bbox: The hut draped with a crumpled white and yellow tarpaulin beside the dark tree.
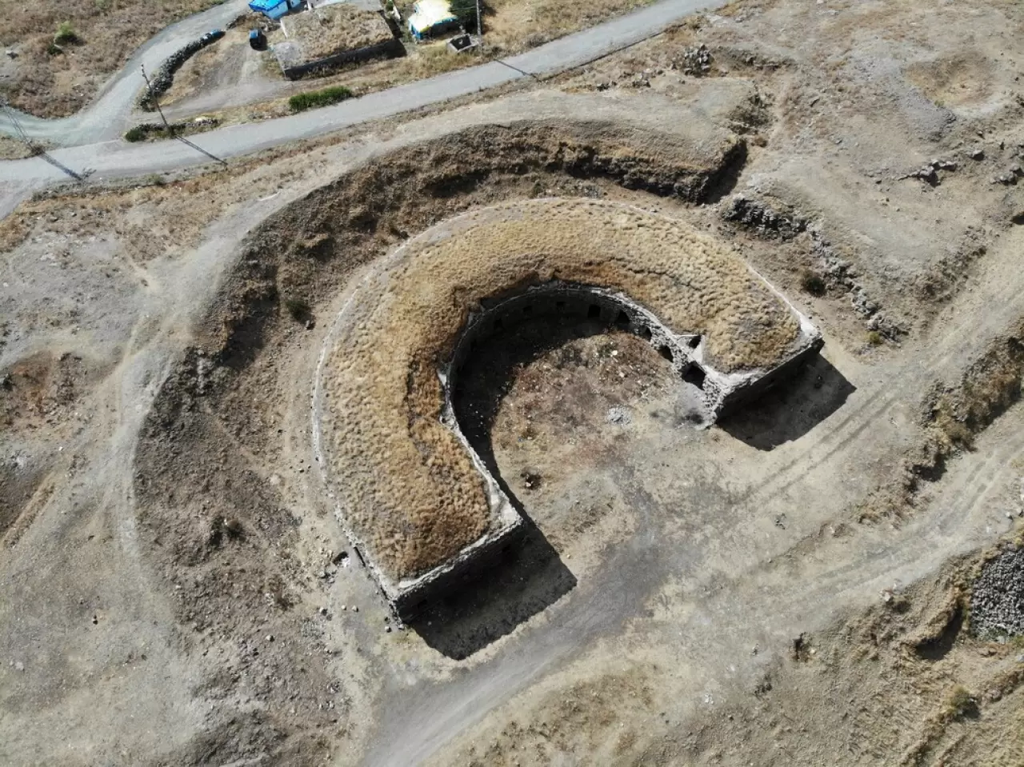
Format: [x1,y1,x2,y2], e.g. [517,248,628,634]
[407,0,460,45]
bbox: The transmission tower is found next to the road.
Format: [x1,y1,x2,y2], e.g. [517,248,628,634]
[0,96,44,154]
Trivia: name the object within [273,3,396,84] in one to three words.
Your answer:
house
